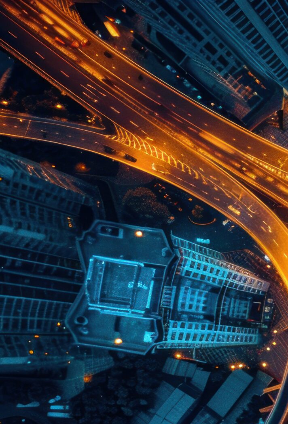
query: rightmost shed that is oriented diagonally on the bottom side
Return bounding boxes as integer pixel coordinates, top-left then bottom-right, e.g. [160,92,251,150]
[205,366,260,419]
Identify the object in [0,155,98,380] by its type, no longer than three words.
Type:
building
